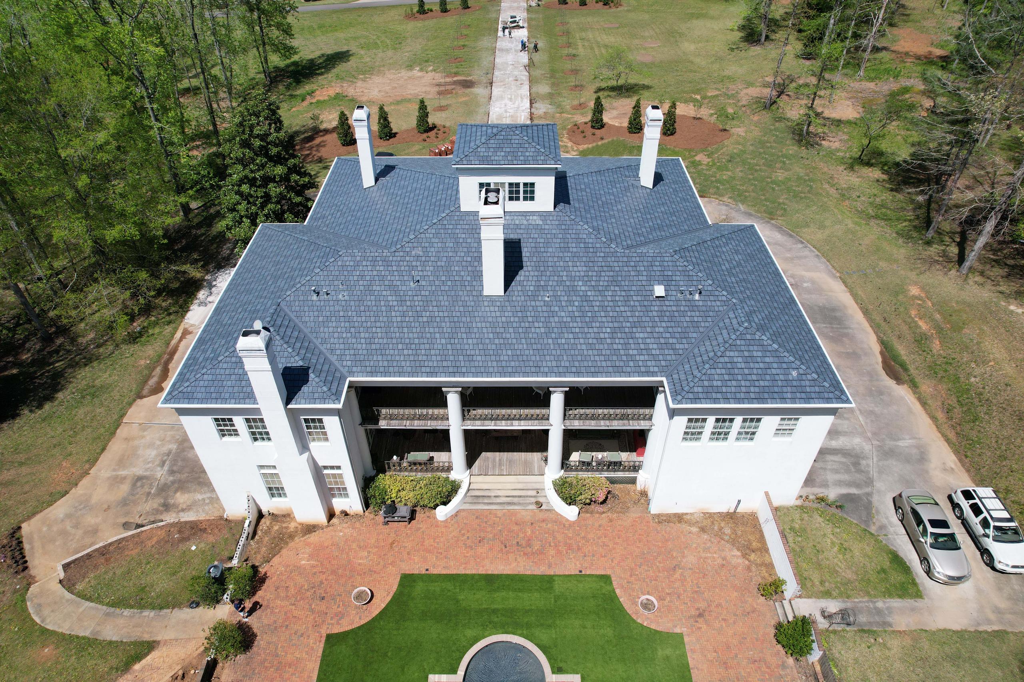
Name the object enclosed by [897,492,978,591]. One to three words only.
car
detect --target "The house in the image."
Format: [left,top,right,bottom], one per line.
[159,101,854,523]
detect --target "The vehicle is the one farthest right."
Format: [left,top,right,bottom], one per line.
[955,486,1024,585]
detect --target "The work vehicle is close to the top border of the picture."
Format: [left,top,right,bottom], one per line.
[498,10,524,28]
